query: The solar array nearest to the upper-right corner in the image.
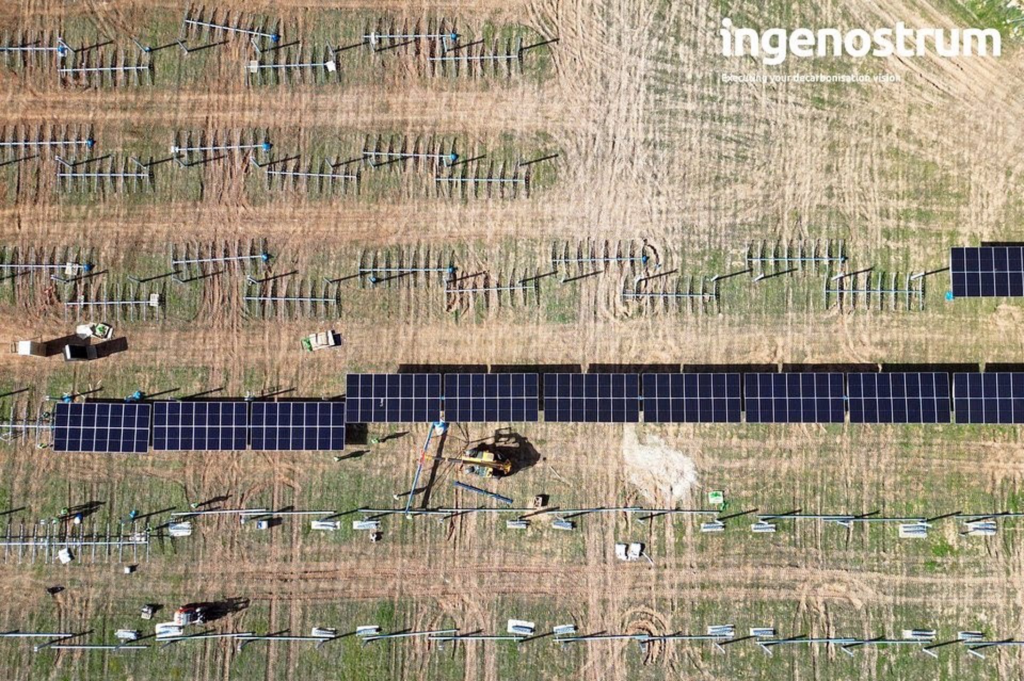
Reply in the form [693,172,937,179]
[948,246,1024,297]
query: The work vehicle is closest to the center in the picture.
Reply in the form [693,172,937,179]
[419,447,512,479]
